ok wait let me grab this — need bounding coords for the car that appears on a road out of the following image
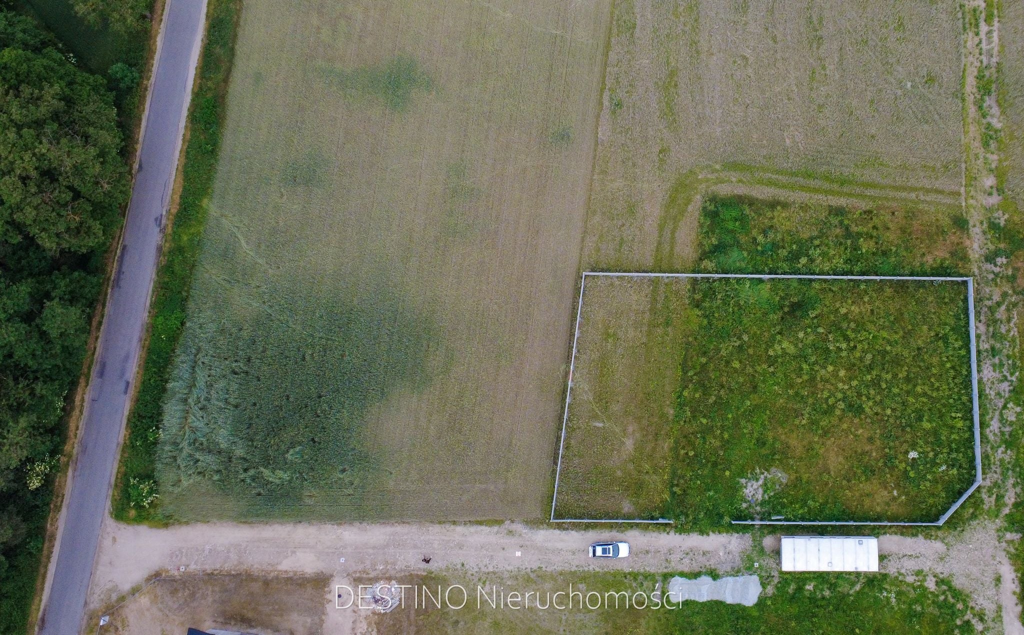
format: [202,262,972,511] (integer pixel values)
[589,542,630,560]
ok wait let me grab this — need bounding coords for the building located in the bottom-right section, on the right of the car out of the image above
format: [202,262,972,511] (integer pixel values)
[781,538,879,572]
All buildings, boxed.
[185,627,227,635]
[781,538,879,572]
